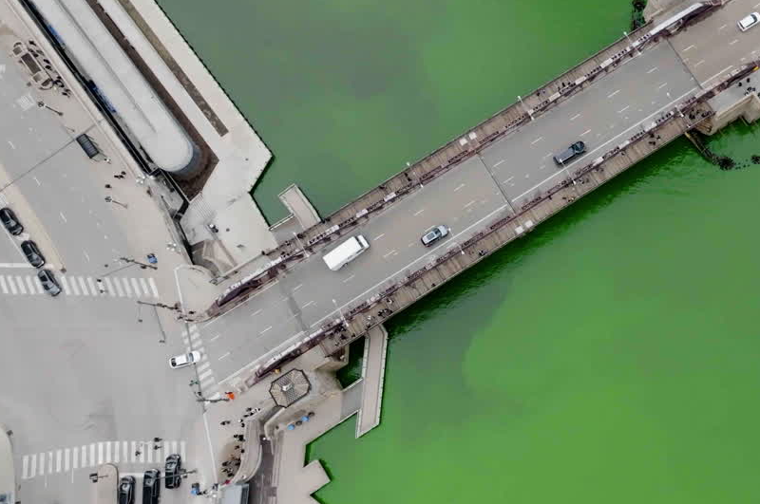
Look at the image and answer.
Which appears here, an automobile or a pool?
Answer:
automobile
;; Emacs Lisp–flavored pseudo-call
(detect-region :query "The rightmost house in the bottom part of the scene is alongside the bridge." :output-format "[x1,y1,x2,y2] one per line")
[268,369,323,408]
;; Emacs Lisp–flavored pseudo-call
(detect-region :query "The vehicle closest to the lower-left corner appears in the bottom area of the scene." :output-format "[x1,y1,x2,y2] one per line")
[118,474,138,504]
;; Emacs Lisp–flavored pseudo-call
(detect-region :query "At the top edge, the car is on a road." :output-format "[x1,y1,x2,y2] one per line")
[736,12,760,31]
